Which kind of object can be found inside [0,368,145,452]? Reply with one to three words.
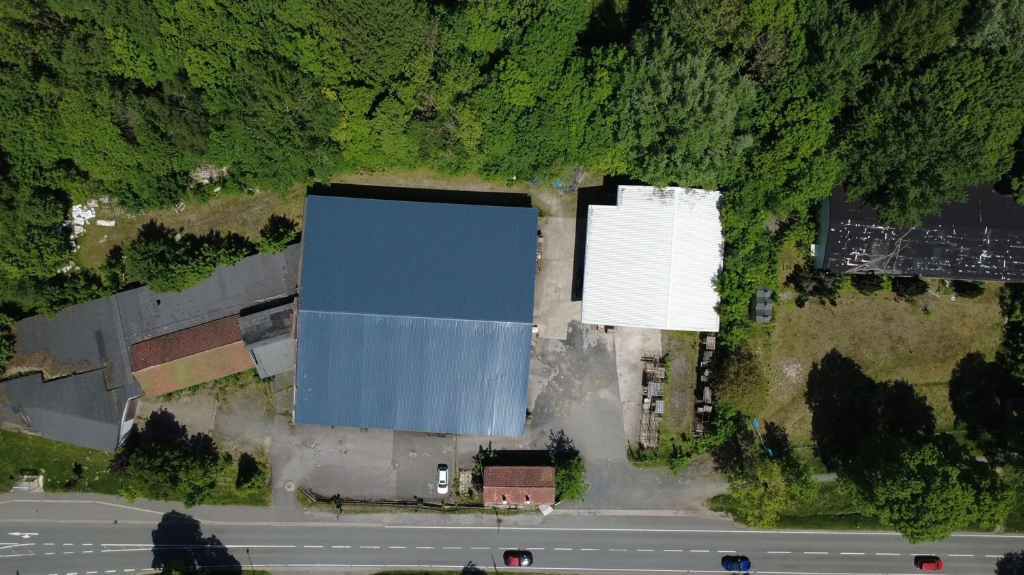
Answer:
building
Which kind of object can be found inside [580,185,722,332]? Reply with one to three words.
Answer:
shed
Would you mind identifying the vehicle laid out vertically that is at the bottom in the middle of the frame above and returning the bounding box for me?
[436,464,451,495]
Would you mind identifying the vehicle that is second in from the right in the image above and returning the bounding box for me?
[721,556,750,572]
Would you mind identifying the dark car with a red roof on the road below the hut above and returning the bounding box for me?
[503,552,533,568]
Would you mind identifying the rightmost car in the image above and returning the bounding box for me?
[914,556,943,571]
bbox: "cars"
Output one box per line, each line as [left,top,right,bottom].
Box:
[436,464,451,495]
[721,556,750,572]
[914,556,943,571]
[503,552,533,568]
